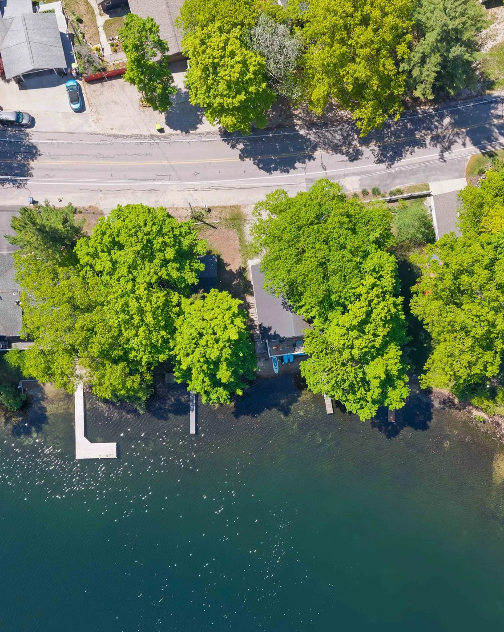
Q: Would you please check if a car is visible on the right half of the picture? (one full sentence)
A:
No, I see no car on the right half of the picture.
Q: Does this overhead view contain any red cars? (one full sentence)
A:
No, this view has no red car in it.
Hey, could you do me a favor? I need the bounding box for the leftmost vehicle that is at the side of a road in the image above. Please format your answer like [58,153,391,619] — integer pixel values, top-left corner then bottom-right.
[0,110,30,128]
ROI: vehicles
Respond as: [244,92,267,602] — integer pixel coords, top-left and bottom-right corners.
[0,110,30,128]
[65,80,84,112]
